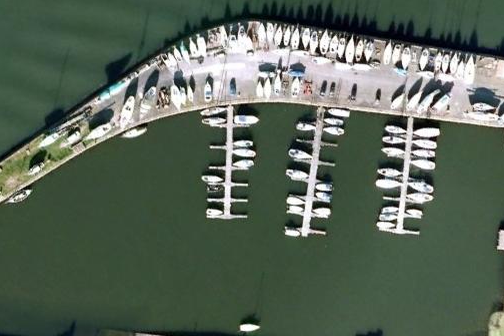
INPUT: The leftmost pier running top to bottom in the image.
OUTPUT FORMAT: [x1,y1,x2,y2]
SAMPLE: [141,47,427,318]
[206,105,250,220]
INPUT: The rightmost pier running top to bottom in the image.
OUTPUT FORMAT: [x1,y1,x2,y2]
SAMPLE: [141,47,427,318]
[379,114,428,234]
